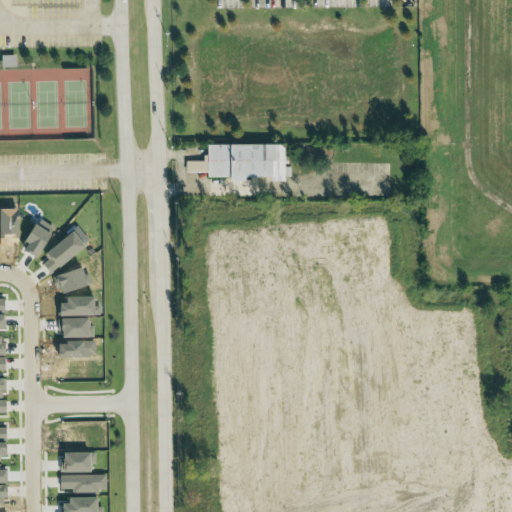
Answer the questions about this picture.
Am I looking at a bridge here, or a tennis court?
tennis court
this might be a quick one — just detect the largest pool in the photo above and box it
[26,202,44,218]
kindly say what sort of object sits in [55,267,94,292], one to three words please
house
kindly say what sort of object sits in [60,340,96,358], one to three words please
house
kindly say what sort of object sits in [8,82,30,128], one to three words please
tennis court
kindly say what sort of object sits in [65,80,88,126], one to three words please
tennis court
